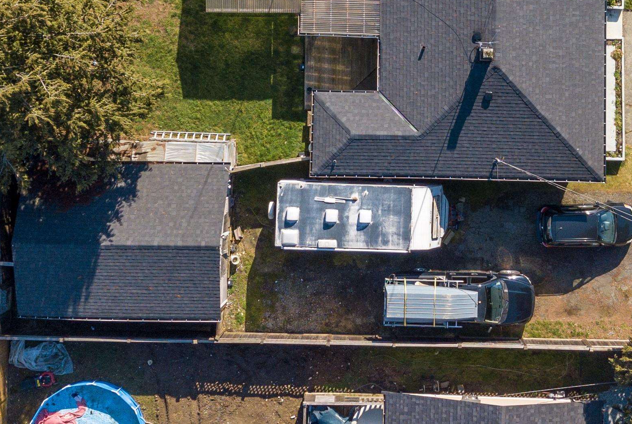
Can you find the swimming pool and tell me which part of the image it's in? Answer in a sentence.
The swimming pool appears toward the bottom left of the photo.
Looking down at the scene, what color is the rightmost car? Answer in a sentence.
In this view, the rightmost car is black.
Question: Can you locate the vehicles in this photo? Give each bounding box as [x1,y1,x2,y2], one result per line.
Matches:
[384,272,536,330]
[268,179,451,254]
[537,200,632,251]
